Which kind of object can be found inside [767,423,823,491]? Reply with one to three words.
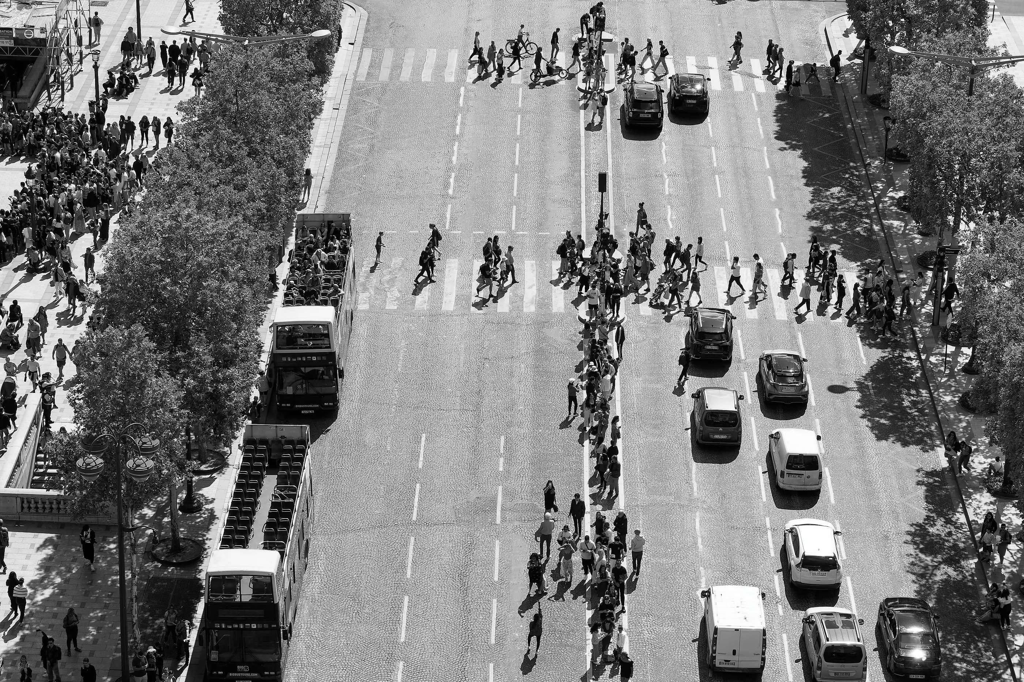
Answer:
van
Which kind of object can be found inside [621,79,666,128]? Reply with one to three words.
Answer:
car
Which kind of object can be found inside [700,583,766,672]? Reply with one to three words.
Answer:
van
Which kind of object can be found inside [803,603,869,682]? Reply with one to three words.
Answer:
car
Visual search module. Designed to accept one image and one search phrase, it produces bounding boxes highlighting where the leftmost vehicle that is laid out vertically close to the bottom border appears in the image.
[196,421,312,682]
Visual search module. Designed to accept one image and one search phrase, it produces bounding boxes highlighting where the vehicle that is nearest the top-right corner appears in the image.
[667,72,709,113]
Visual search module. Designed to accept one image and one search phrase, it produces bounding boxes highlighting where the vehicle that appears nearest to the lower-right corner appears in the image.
[875,602,941,681]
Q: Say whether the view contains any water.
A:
No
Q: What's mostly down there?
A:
paved ground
